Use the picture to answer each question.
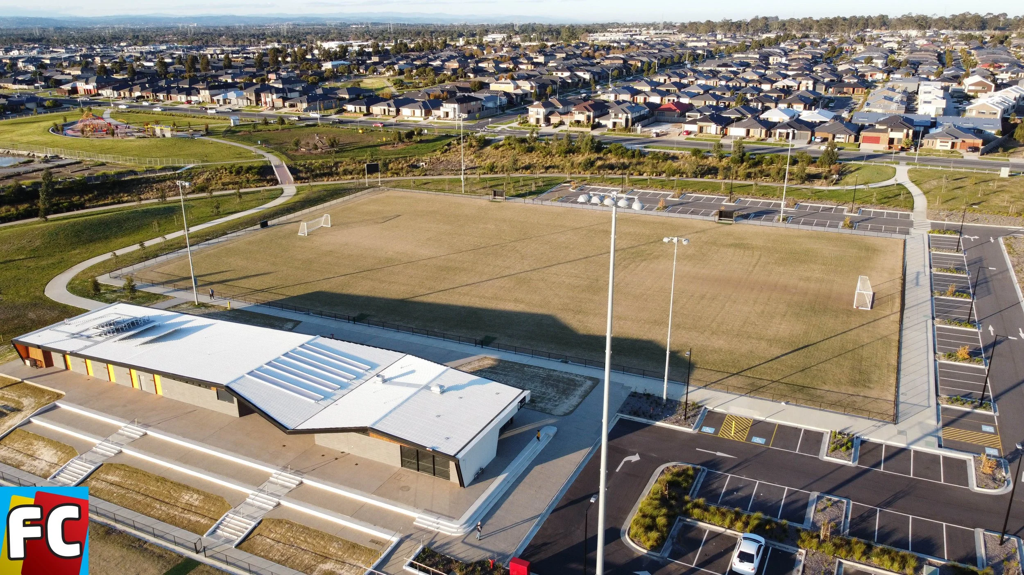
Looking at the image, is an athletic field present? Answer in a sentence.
Yes, an athletic field can be made out from above.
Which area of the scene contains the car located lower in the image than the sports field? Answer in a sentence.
The car located lower in the image than the sports field is located in the bottom right region of the scene.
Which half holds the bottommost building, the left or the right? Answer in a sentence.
You can find the bottommost building on the left side of the picture.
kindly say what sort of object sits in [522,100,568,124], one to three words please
house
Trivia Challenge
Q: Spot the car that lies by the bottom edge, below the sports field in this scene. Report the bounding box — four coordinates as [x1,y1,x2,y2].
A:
[731,531,767,575]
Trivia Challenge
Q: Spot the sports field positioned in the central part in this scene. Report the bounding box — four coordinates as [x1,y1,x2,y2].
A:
[111,188,904,422]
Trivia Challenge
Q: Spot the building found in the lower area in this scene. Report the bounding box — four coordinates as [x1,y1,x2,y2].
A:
[11,302,530,490]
